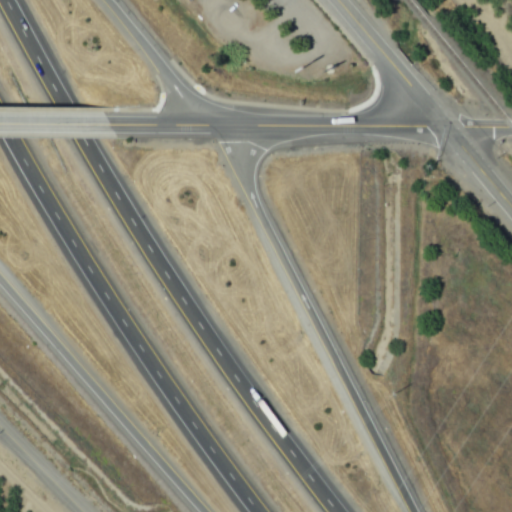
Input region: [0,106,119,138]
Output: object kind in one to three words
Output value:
overpass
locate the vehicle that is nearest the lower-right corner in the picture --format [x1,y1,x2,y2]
[252,388,288,438]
